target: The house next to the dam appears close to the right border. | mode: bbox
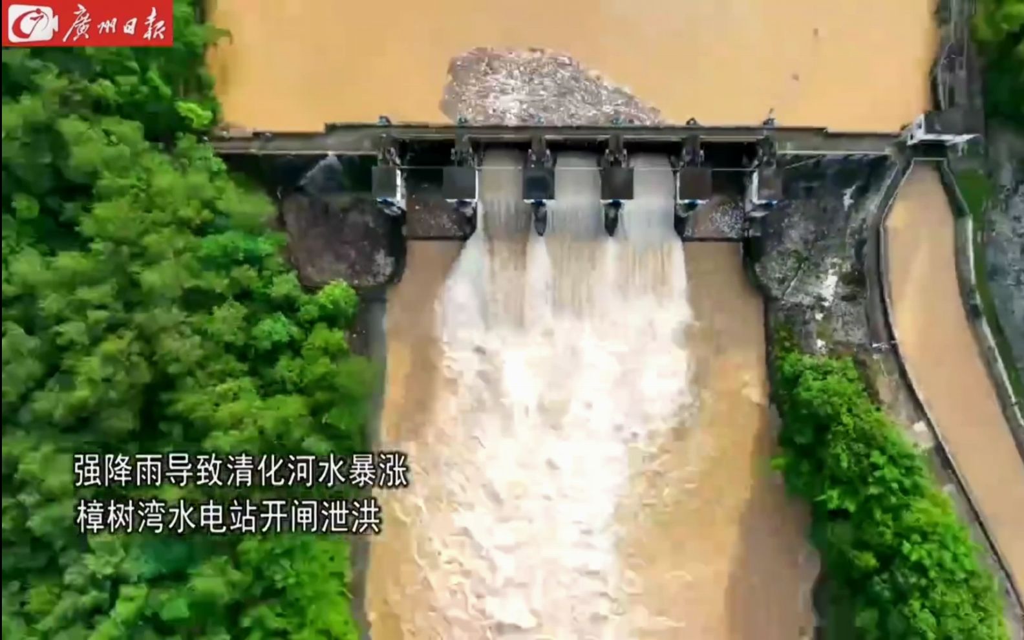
[893,111,984,156]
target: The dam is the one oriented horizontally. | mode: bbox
[207,122,908,288]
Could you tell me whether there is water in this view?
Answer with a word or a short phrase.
Yes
